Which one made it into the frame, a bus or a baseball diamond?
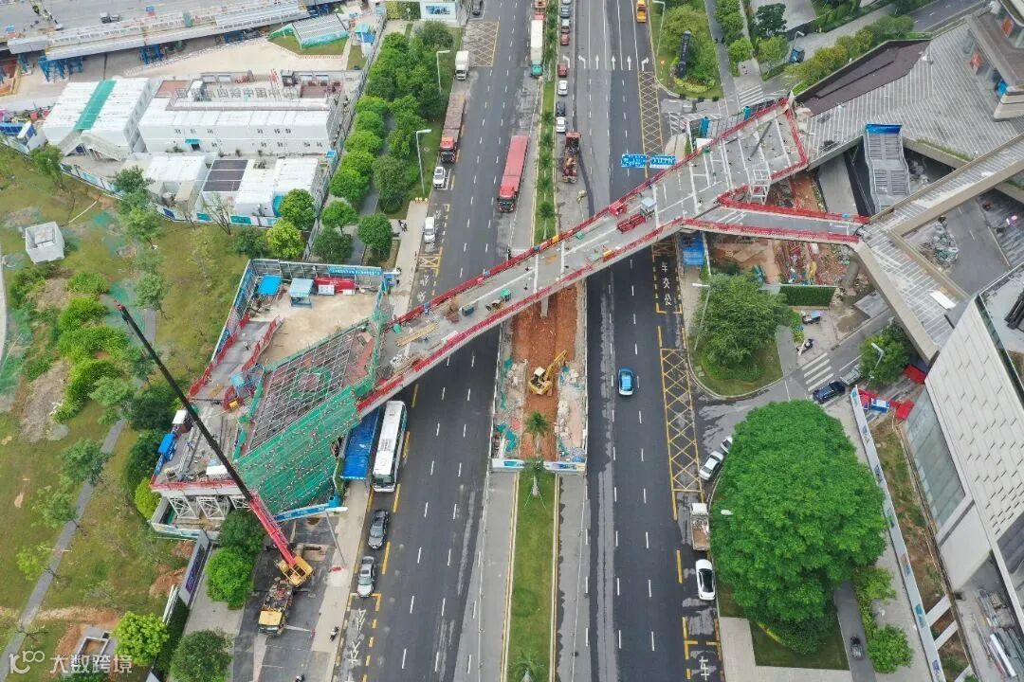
bus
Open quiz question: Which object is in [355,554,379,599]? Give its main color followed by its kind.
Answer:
gray car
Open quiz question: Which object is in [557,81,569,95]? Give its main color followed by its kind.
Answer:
white vehicle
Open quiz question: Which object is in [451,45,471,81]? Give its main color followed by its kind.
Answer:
white vehicle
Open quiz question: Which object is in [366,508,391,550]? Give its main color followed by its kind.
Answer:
gray car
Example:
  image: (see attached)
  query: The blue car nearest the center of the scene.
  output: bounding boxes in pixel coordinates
[617,370,634,397]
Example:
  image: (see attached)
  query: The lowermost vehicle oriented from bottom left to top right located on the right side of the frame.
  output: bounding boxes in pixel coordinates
[696,448,726,482]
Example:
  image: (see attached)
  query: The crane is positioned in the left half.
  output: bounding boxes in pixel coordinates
[116,302,334,655]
